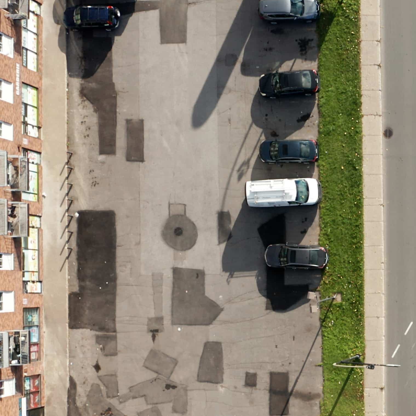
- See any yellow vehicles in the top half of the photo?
No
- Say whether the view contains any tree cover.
No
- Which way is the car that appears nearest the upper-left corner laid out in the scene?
from side to side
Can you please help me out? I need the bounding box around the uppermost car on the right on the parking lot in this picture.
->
[259,0,320,26]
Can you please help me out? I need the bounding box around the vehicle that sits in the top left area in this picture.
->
[62,2,119,31]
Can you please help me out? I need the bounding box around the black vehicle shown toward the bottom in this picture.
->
[265,243,330,269]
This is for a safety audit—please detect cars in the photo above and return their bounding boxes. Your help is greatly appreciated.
[259,0,320,26]
[259,73,320,100]
[62,2,119,31]
[260,139,320,164]
[265,243,330,269]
